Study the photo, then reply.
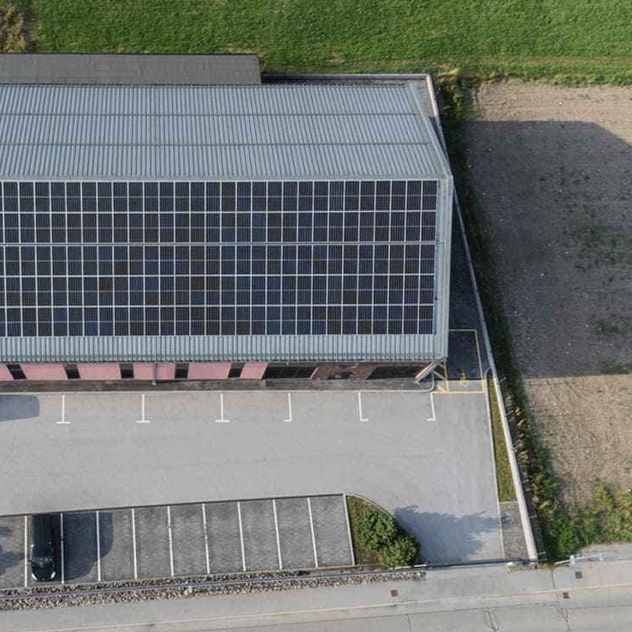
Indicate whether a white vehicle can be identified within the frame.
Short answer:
No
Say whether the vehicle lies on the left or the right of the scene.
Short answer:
left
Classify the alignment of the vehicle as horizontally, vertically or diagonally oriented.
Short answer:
vertically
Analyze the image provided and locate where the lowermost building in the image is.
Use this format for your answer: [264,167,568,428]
[0,82,452,383]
